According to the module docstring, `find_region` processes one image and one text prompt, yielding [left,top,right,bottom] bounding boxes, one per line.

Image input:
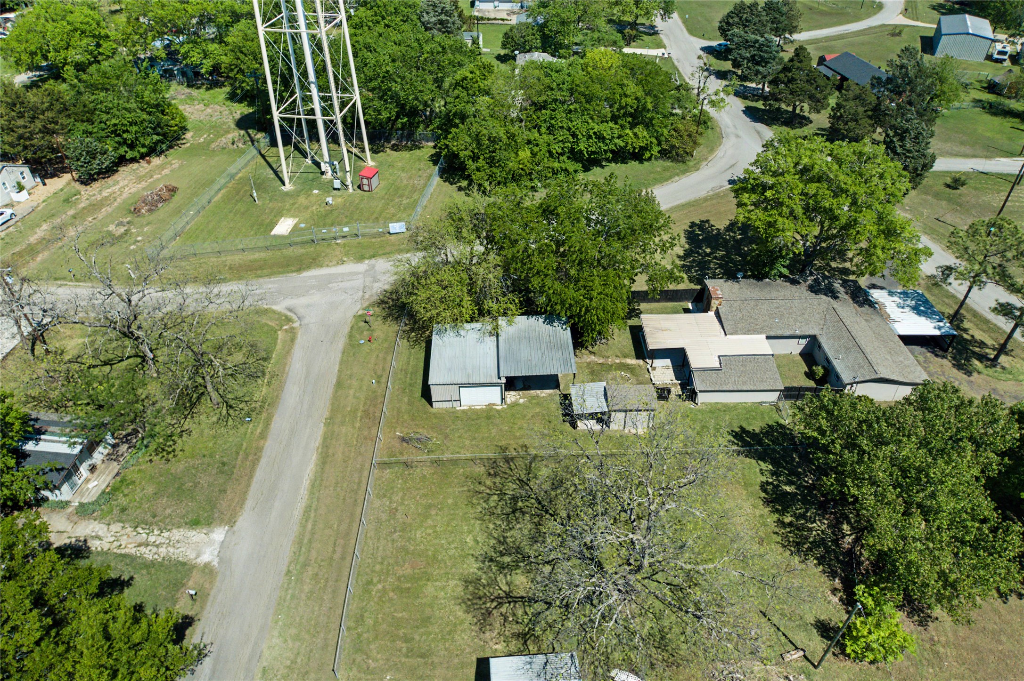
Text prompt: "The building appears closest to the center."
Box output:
[428,315,576,408]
